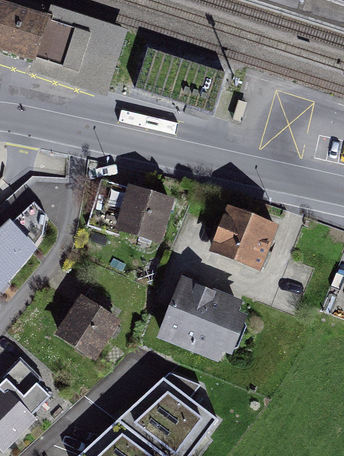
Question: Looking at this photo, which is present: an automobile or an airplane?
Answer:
automobile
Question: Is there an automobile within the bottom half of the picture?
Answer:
Yes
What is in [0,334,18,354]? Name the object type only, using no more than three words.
car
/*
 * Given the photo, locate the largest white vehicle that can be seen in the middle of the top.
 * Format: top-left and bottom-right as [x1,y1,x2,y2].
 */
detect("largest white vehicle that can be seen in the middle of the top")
[118,108,180,138]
